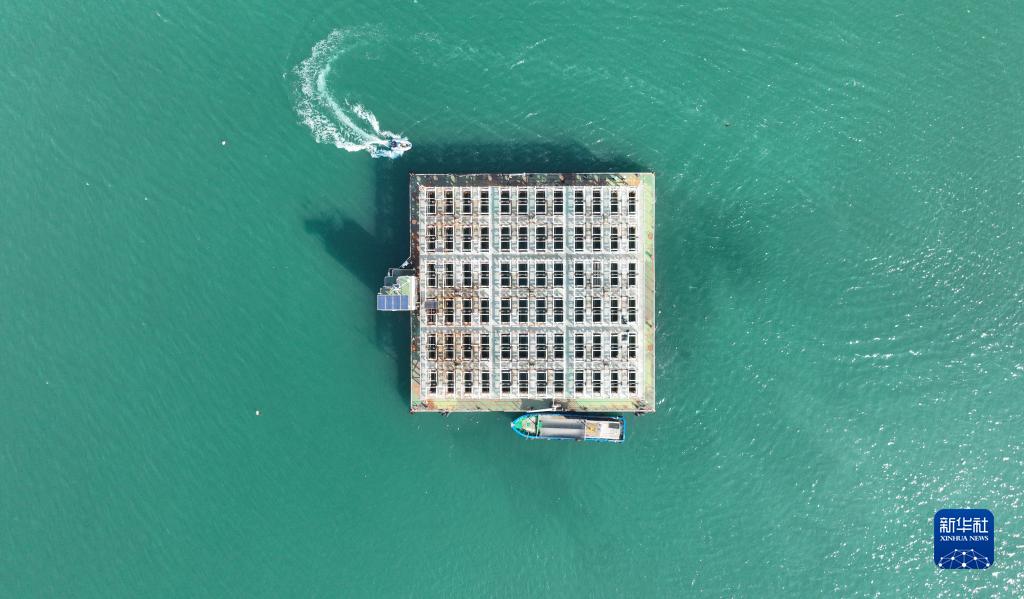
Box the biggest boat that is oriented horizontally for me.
[511,412,626,441]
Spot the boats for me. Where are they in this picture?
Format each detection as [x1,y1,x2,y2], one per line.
[388,139,412,150]
[511,412,626,441]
